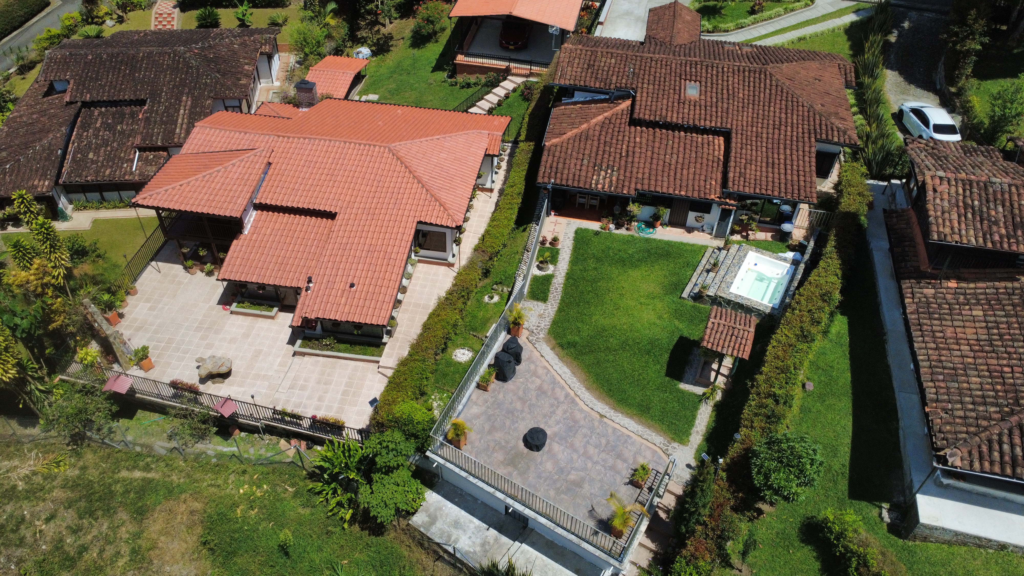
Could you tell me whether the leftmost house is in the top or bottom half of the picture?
top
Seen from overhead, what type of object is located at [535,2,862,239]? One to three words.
house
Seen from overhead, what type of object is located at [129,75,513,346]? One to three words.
house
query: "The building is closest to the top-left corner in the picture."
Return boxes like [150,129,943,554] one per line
[0,26,281,215]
